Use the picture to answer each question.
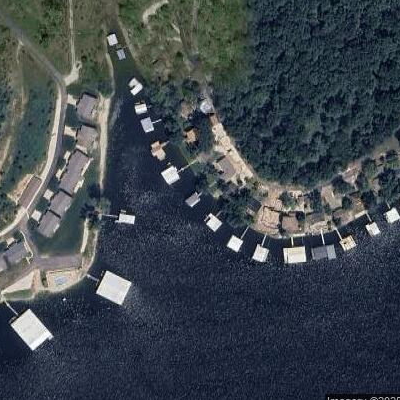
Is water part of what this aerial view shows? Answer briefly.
Yes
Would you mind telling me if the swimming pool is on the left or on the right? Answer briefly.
left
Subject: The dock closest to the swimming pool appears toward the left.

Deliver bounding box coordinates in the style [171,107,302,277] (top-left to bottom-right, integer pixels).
[87,269,132,304]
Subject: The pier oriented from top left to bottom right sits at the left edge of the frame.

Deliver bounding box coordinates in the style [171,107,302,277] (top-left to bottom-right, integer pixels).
[5,299,54,350]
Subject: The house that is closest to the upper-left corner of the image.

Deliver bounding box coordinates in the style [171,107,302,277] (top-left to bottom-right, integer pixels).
[78,96,99,121]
